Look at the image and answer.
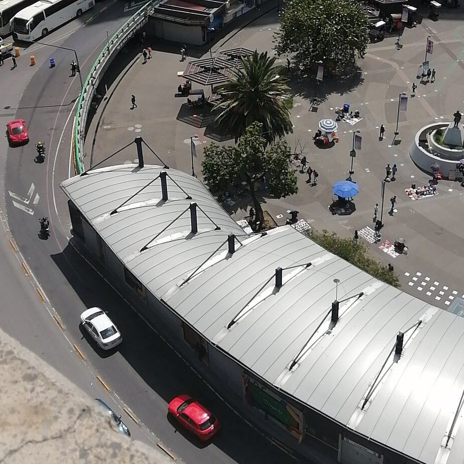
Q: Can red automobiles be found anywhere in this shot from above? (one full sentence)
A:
Yes, this view includes a red automobile.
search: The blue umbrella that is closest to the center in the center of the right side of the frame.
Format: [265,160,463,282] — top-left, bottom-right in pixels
[328,179,362,201]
